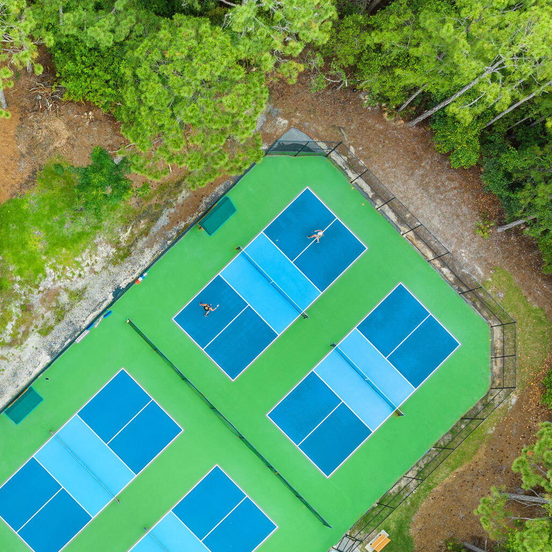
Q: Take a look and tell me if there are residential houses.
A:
No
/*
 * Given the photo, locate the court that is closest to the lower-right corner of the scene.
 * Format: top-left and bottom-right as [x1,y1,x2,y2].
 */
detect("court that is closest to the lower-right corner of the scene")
[265,281,463,480]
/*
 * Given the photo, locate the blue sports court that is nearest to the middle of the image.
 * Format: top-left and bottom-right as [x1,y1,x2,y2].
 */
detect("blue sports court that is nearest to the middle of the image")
[170,185,369,382]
